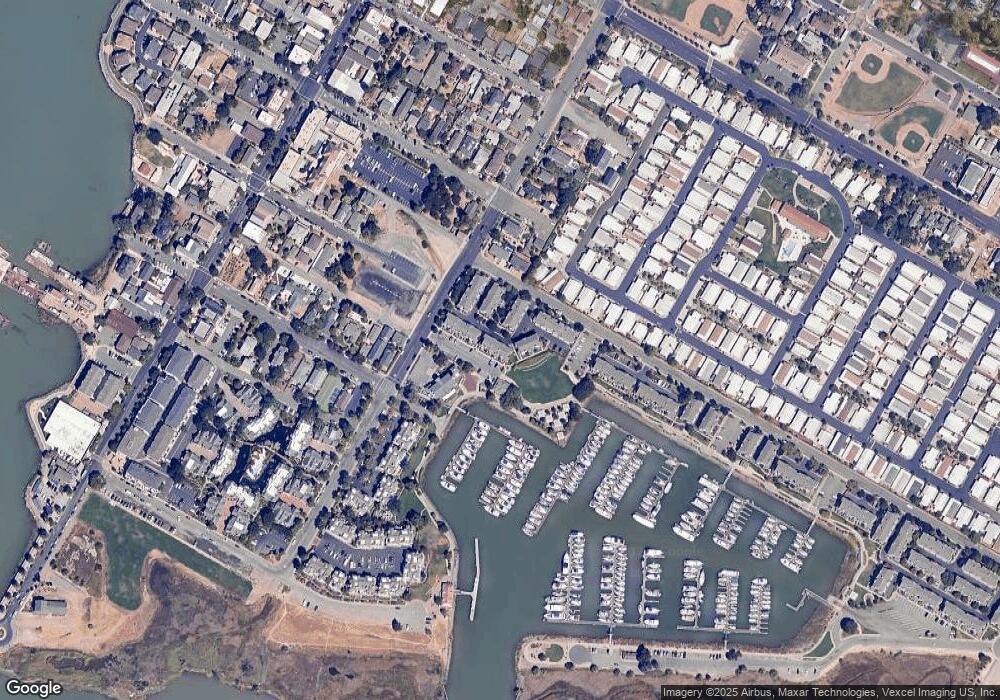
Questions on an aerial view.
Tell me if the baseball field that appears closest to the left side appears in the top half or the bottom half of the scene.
top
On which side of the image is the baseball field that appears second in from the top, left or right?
right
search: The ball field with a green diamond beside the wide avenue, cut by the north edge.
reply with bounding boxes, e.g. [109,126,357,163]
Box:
[636,0,749,50]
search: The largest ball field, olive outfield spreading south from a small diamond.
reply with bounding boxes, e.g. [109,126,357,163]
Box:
[824,40,926,118]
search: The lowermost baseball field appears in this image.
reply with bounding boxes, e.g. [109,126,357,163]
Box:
[876,101,949,169]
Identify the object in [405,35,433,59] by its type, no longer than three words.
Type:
house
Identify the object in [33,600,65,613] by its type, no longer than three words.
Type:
shed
